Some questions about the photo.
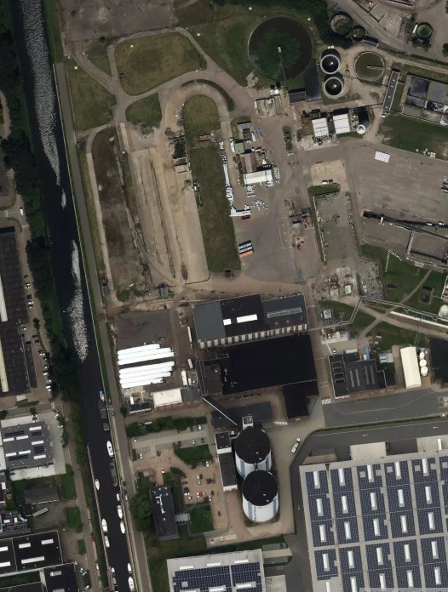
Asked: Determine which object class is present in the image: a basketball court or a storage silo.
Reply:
storage silo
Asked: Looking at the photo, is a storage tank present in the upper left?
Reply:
No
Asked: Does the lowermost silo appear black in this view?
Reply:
Yes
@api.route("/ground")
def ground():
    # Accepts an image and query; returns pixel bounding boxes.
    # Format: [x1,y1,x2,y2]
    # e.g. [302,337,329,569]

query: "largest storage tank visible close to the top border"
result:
[249,19,312,79]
